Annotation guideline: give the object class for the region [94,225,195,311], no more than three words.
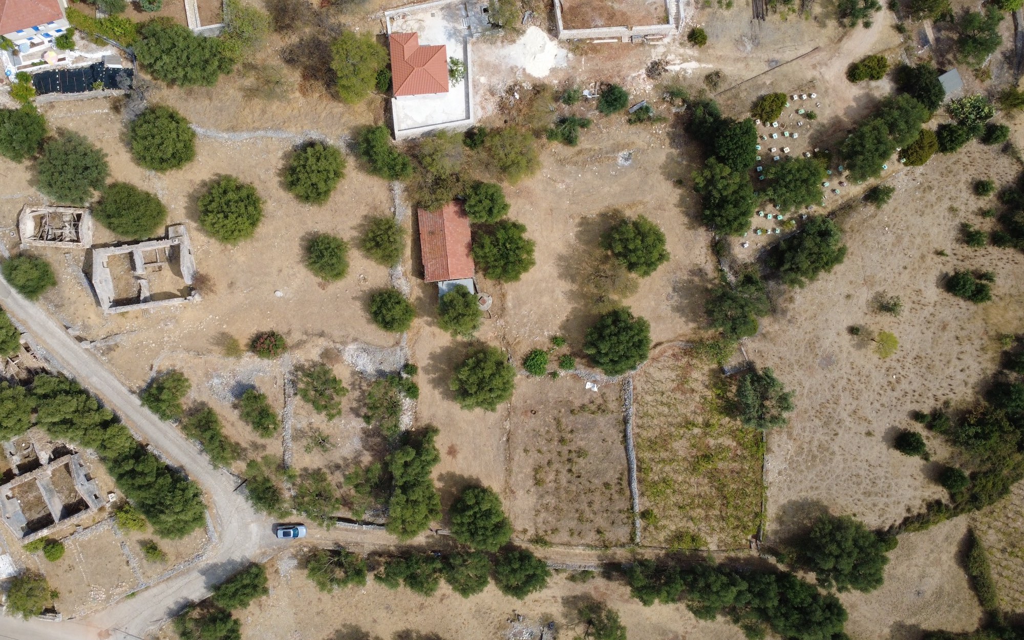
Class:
house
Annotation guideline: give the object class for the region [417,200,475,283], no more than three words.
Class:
barn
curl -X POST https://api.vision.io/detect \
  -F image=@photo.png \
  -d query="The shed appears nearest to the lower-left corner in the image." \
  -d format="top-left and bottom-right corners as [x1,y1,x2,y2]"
[0,546,28,578]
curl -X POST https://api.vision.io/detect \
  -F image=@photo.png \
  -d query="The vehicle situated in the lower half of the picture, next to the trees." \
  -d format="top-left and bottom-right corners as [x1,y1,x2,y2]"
[278,524,308,540]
